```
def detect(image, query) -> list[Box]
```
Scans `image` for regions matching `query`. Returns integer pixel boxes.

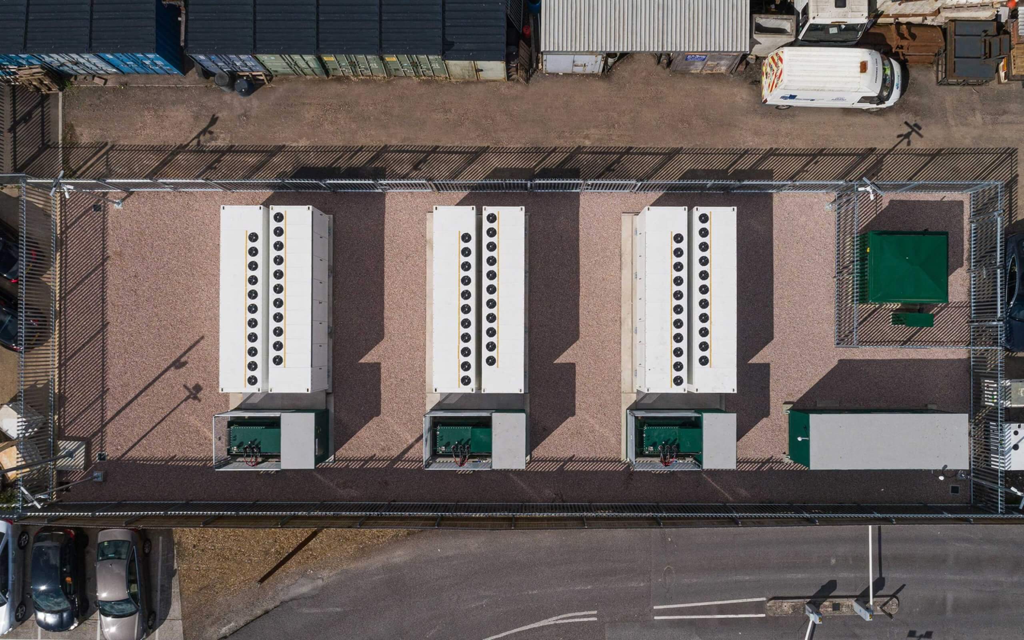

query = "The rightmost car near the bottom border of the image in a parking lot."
[88,529,153,640]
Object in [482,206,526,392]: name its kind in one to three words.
shipping container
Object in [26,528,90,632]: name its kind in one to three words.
car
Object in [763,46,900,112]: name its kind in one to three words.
van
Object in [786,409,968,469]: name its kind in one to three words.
building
